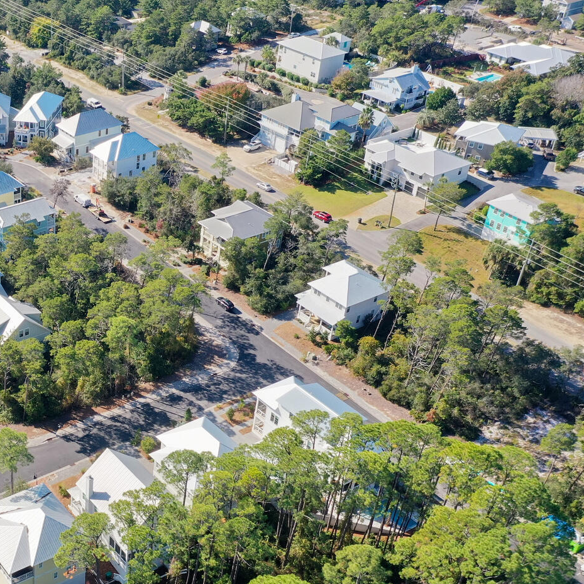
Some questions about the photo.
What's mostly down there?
trees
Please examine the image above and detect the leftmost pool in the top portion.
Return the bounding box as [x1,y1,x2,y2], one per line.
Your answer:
[343,61,360,74]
